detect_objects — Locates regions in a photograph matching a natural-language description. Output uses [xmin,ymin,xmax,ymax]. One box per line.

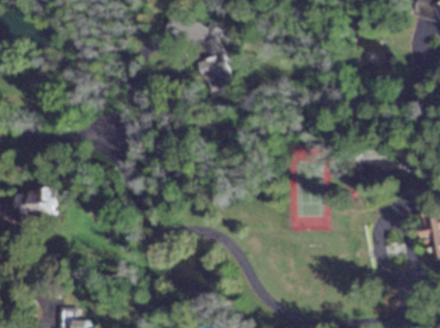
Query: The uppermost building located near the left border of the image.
[14,186,60,218]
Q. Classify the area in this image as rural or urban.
rural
